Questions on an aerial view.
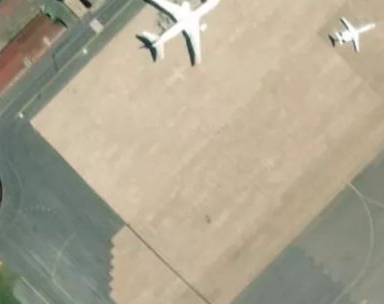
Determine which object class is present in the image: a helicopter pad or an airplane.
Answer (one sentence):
The image shows an airplane.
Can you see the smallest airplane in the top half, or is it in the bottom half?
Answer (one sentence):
You can find the smallest airplane in the top half.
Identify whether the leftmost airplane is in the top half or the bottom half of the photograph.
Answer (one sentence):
You can find the leftmost airplane in the top half.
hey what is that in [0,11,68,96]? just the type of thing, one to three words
building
